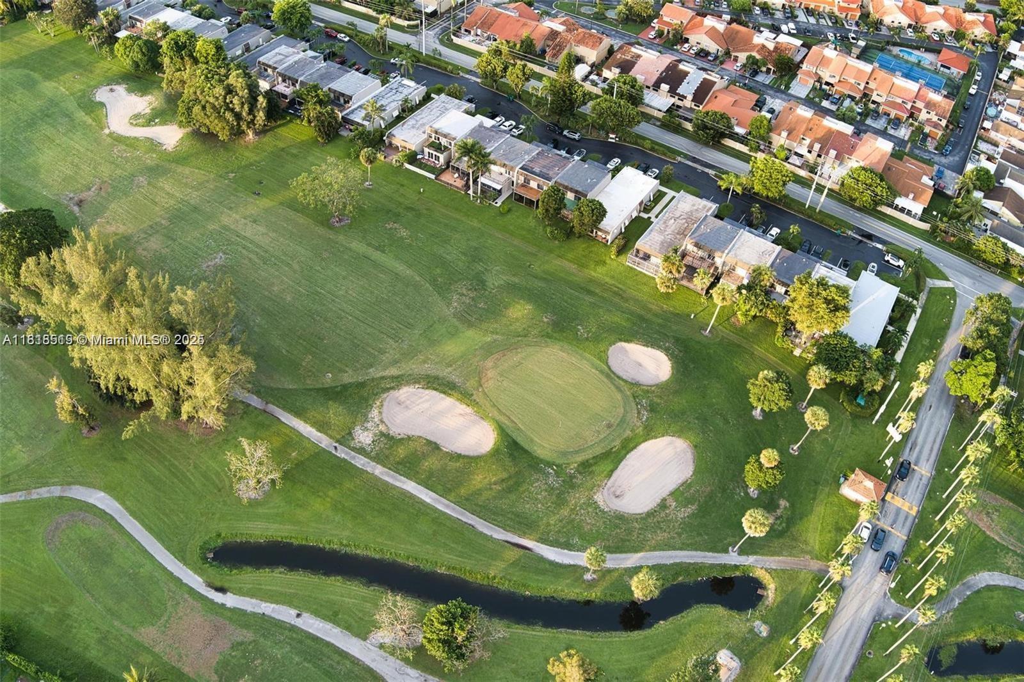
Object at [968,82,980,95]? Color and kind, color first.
white vehicle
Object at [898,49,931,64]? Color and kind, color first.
blue swimming pool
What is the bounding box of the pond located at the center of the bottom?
[211,541,764,633]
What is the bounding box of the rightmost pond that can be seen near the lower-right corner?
[926,641,1024,680]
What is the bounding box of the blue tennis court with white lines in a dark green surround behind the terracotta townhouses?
[845,43,968,97]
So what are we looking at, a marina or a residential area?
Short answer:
residential area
